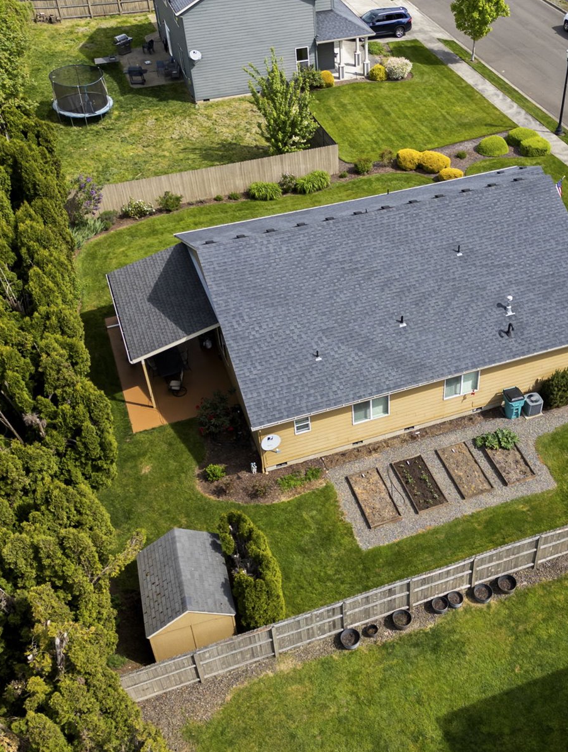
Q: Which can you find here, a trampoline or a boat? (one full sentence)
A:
It is a trampoline that can be seen here.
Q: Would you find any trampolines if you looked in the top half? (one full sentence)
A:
Yes, you'll find a trampoline in the top half.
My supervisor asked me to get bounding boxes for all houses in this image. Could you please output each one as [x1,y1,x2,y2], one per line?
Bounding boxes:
[151,0,377,101]
[106,167,568,477]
